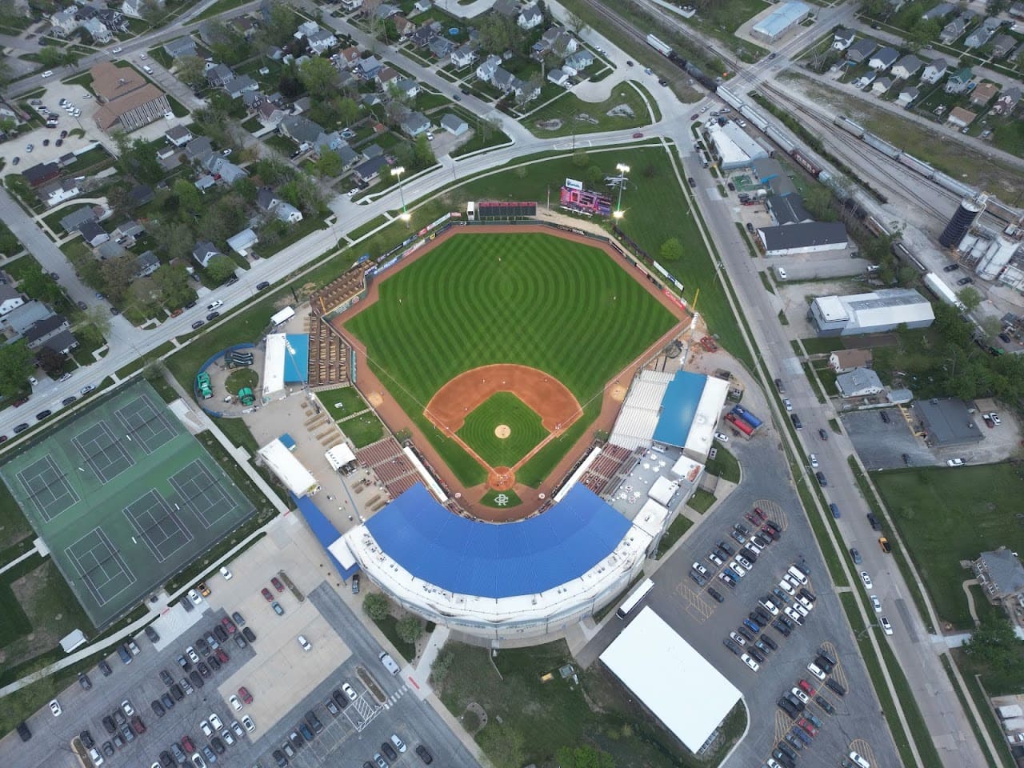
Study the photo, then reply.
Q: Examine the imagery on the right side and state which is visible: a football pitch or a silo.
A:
silo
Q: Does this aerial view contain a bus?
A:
Yes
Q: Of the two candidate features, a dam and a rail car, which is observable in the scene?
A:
rail car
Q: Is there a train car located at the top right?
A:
Yes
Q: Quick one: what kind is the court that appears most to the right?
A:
tennis court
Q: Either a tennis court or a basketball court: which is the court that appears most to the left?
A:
tennis court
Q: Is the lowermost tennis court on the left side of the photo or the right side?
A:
left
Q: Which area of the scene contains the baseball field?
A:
center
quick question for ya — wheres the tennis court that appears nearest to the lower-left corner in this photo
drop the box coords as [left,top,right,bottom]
[65,527,136,606]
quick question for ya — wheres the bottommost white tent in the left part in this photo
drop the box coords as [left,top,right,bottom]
[326,444,359,479]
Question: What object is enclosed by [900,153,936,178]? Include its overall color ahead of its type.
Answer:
gray rail car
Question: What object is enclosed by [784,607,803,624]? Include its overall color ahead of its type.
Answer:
white vehicle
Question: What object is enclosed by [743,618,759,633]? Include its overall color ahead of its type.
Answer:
blue car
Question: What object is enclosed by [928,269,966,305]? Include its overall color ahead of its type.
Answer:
white rail car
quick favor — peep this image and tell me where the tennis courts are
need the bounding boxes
[168,459,237,528]
[15,454,81,523]
[115,394,178,455]
[122,486,192,559]
[71,417,135,481]
[65,527,136,606]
